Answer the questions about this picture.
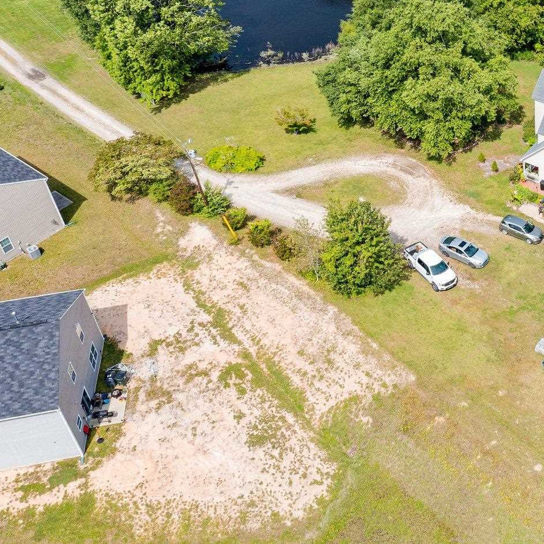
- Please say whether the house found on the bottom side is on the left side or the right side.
left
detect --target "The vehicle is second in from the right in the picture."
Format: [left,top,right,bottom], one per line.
[436,231,491,267]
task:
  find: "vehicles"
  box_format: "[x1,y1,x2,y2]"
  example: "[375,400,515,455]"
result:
[497,209,544,243]
[405,237,461,291]
[436,231,491,267]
